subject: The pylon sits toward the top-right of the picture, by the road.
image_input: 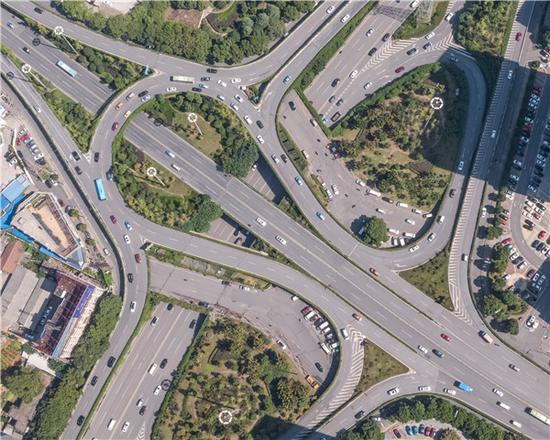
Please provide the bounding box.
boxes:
[416,0,440,29]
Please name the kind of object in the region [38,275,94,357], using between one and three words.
building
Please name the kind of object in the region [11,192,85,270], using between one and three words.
building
